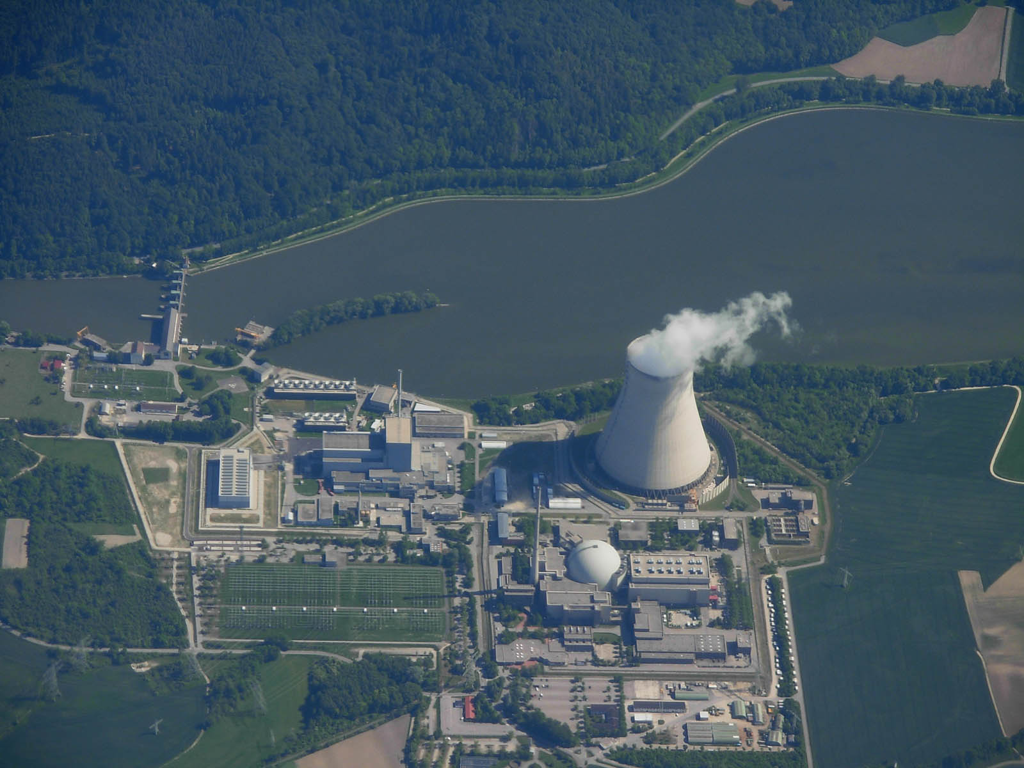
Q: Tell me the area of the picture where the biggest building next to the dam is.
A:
left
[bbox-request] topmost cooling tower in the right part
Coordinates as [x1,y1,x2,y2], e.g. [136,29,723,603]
[586,332,720,503]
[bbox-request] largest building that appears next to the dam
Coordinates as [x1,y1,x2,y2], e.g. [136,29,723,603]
[159,308,181,363]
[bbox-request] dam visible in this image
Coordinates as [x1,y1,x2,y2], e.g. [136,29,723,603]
[156,265,188,315]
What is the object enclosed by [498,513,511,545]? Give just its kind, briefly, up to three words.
building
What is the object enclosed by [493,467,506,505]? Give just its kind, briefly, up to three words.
building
